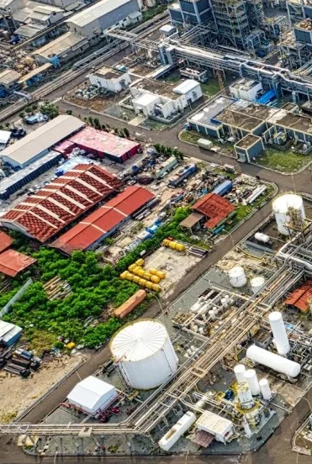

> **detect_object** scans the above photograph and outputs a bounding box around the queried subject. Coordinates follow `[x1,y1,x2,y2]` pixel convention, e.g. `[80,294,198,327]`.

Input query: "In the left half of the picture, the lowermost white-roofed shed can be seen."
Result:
[66,376,121,419]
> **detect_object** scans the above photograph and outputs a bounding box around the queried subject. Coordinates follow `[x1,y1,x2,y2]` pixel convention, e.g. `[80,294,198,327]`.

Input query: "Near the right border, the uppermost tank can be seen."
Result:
[270,188,307,235]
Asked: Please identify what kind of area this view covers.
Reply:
industrial area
